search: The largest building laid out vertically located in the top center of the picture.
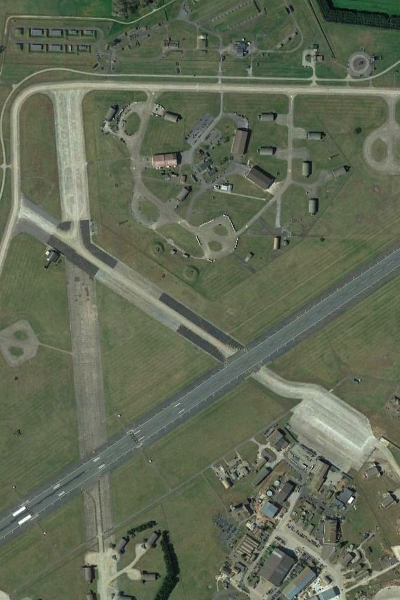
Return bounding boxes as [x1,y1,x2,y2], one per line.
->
[231,127,248,155]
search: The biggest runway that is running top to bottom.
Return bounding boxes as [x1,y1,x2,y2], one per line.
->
[66,258,115,554]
